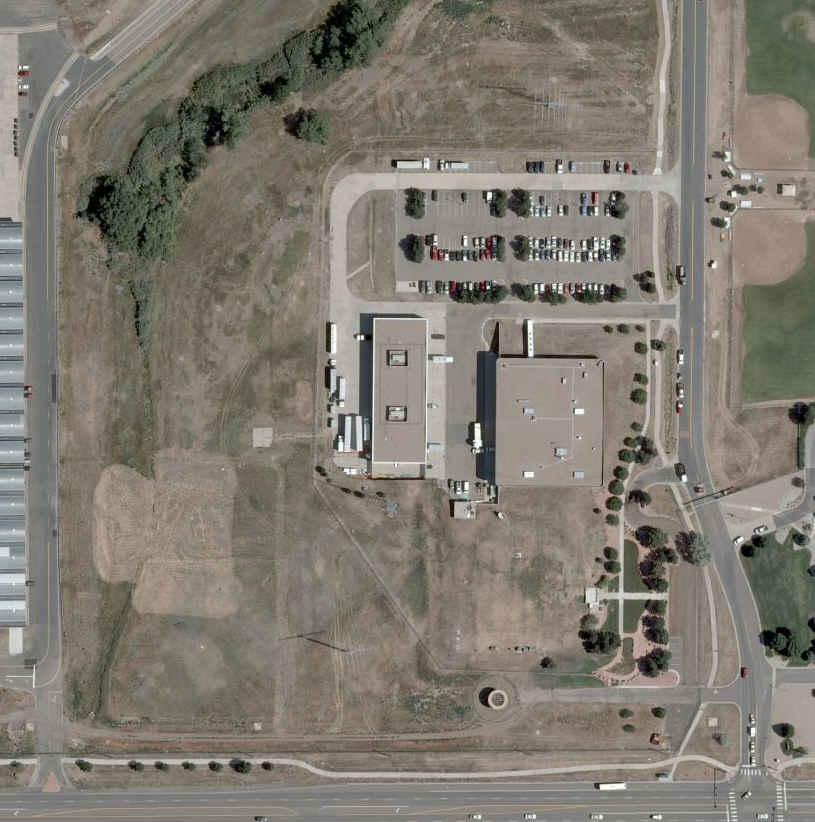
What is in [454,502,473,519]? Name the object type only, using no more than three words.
shed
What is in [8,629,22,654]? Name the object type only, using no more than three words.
shed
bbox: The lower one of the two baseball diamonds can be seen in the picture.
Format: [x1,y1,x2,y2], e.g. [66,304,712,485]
[736,210,815,403]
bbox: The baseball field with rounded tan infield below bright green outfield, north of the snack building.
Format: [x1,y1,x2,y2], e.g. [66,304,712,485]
[735,0,815,169]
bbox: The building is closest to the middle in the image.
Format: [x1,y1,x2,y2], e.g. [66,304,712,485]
[373,318,428,478]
